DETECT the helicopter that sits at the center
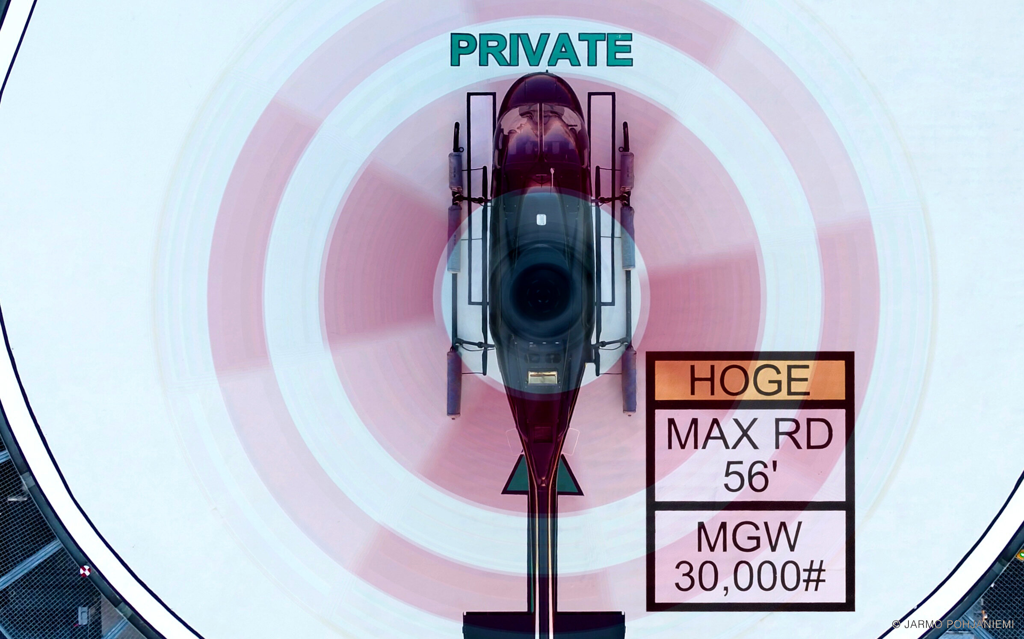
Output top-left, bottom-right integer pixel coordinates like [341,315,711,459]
[182,0,903,639]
